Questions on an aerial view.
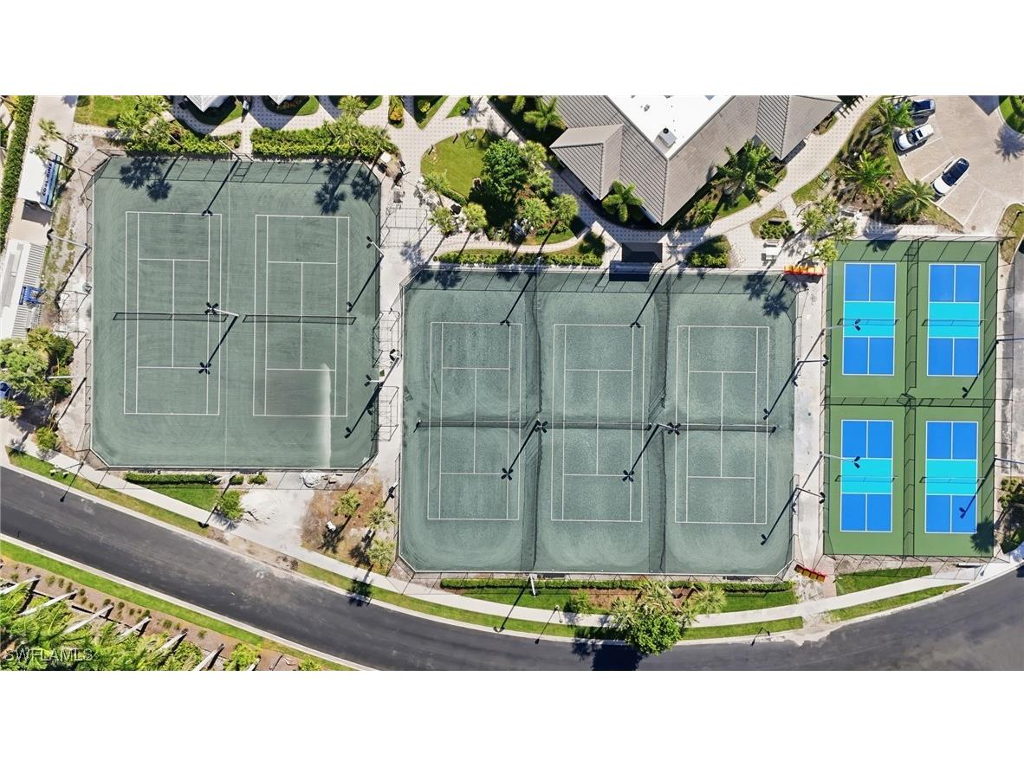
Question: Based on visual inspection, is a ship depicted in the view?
No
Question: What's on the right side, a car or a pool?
car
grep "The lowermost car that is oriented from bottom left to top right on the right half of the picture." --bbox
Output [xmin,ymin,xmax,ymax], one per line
[930,156,974,194]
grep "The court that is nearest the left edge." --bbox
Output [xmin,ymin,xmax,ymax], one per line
[91,157,228,467]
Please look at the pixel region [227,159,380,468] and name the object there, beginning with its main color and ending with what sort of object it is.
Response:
gray tennis court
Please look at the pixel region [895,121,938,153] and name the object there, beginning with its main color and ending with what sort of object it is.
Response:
white car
